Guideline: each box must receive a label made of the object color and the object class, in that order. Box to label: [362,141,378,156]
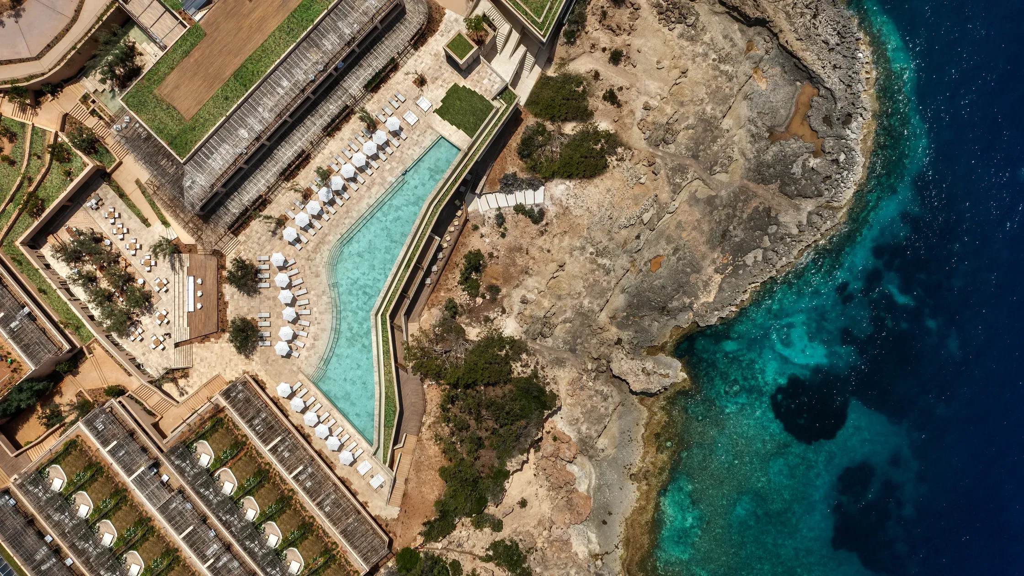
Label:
white umbrella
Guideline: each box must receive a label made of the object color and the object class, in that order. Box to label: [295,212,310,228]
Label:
white umbrella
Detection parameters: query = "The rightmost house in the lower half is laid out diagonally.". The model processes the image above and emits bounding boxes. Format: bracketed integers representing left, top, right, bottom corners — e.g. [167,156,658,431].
[217,371,403,571]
